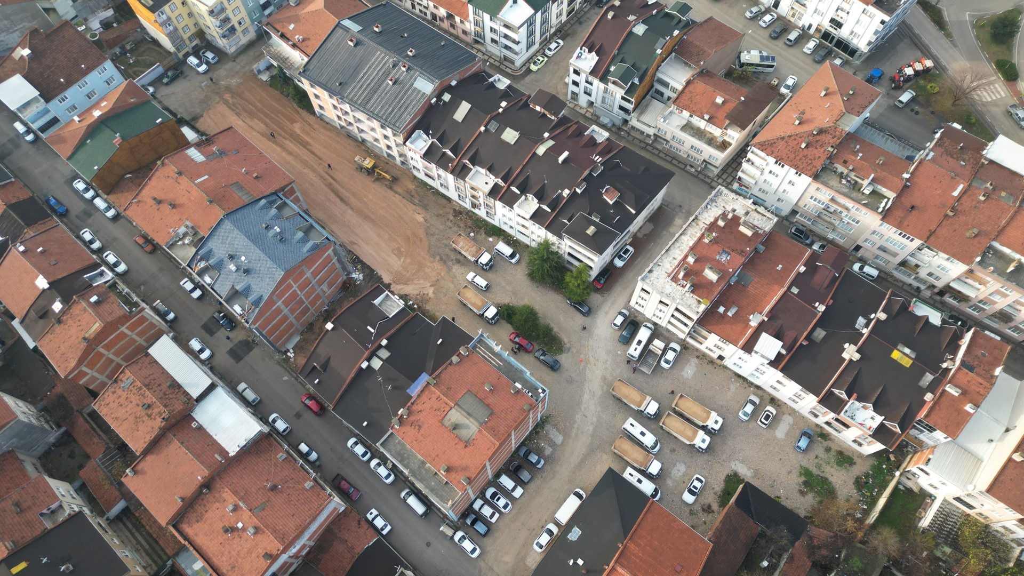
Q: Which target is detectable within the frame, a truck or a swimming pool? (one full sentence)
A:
Looking from above, you can make out a truck.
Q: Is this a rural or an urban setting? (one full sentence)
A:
The land in this view is best described as urban.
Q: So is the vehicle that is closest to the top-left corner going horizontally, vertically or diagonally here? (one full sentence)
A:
The vehicle that is closest to the top-left corner has been laid out diagonally relative to the frame.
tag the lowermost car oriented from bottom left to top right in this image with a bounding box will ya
[530,524,558,555]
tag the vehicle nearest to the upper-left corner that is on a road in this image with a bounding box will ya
[9,118,38,142]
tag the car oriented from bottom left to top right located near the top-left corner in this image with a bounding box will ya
[160,67,184,86]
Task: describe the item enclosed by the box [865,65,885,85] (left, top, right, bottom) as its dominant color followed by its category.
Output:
blue work vehicle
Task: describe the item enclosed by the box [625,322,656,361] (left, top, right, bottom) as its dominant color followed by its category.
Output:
white vehicle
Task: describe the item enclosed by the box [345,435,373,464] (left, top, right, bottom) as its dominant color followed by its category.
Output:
white car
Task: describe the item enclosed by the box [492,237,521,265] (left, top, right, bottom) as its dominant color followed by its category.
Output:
white van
